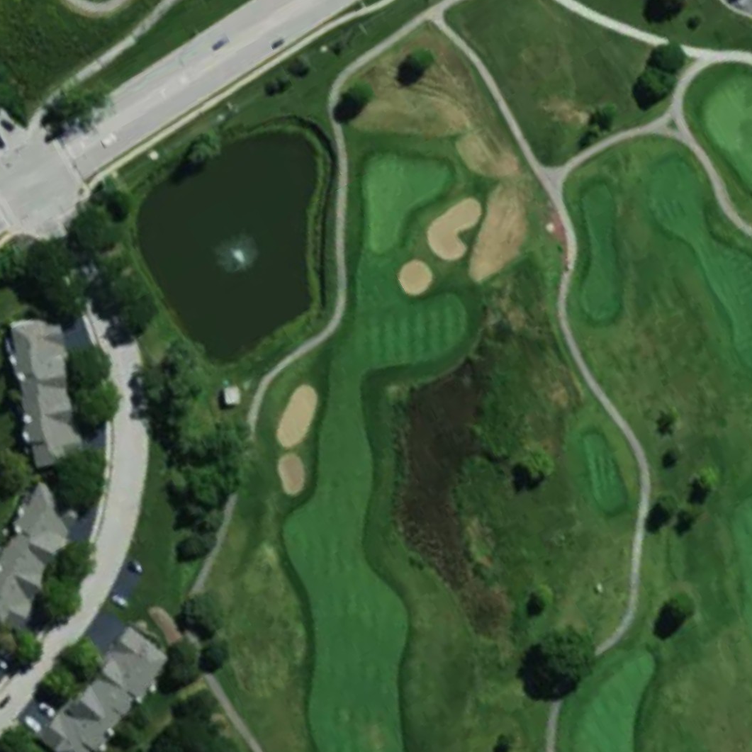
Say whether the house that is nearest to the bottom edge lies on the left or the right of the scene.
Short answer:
left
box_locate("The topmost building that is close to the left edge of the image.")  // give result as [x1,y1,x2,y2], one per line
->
[9,316,83,472]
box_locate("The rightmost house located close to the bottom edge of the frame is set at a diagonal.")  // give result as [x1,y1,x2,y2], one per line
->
[40,628,163,752]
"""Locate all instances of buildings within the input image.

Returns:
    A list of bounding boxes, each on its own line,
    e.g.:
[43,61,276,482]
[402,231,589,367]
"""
[220,387,239,405]
[9,316,83,472]
[40,628,163,752]
[0,478,68,632]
